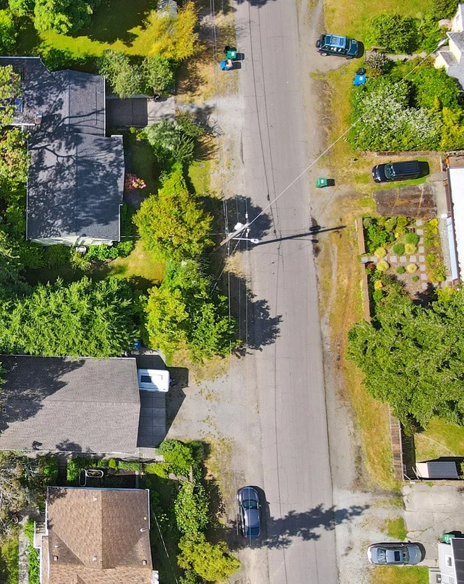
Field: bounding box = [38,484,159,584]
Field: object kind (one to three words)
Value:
house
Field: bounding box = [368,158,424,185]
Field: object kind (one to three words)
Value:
car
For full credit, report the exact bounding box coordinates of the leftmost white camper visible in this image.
[138,369,180,393]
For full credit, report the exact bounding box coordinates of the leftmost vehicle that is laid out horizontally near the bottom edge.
[366,541,420,567]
